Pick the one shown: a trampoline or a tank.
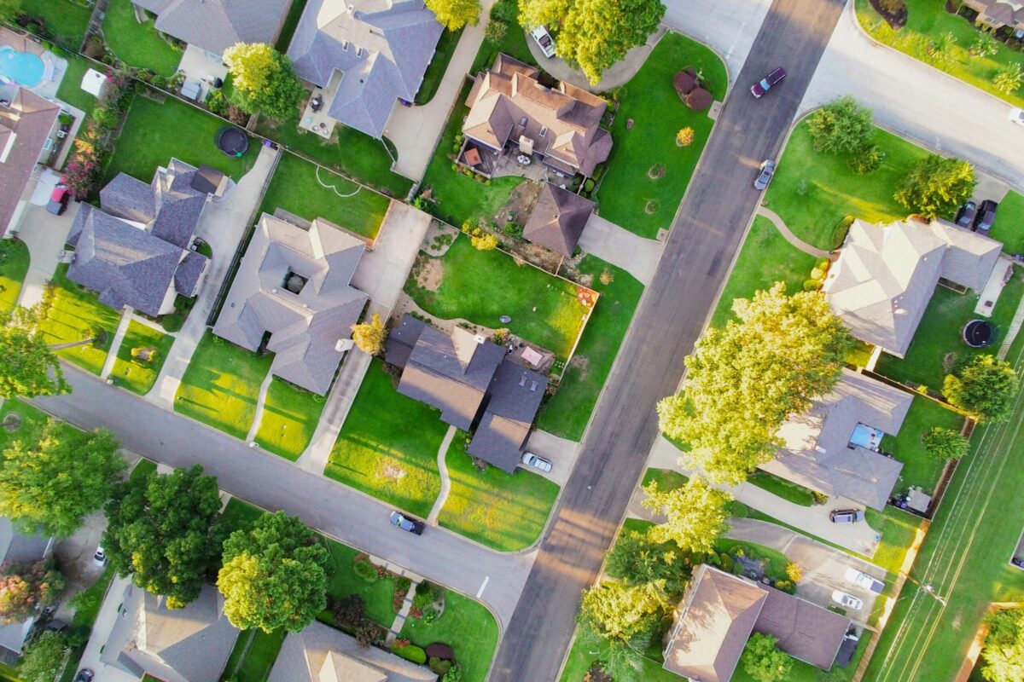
trampoline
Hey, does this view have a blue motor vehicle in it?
Yes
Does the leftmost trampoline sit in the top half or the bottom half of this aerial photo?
top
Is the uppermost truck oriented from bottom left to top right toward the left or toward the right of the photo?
right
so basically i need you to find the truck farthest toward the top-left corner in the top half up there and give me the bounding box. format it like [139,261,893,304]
[42,180,66,216]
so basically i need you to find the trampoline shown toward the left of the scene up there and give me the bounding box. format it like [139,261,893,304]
[211,122,250,159]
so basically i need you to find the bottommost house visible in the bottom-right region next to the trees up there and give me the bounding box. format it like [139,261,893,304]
[662,565,852,682]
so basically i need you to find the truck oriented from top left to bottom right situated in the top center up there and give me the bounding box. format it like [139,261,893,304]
[529,24,557,61]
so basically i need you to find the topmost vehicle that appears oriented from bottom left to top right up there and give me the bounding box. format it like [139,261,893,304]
[750,66,787,98]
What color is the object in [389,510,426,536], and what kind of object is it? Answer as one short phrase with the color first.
blue truck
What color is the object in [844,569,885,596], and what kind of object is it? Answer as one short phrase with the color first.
white truck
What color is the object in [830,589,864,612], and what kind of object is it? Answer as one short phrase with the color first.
white car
